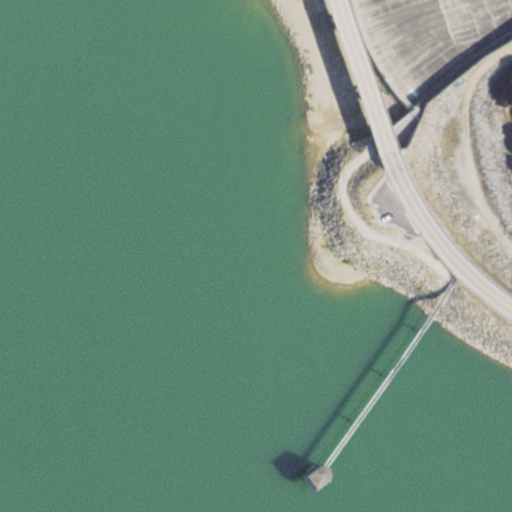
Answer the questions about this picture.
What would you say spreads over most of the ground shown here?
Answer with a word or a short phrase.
water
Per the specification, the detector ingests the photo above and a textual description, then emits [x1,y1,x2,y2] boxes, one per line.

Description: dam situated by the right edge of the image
[317,0,512,170]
